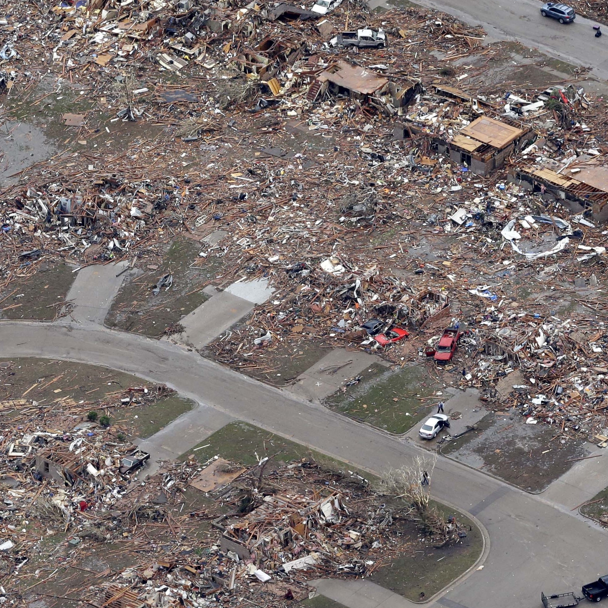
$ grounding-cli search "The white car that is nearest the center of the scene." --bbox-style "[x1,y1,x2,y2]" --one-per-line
[418,415,449,440]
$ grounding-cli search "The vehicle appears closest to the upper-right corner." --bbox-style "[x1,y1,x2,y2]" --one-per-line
[538,1,577,23]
